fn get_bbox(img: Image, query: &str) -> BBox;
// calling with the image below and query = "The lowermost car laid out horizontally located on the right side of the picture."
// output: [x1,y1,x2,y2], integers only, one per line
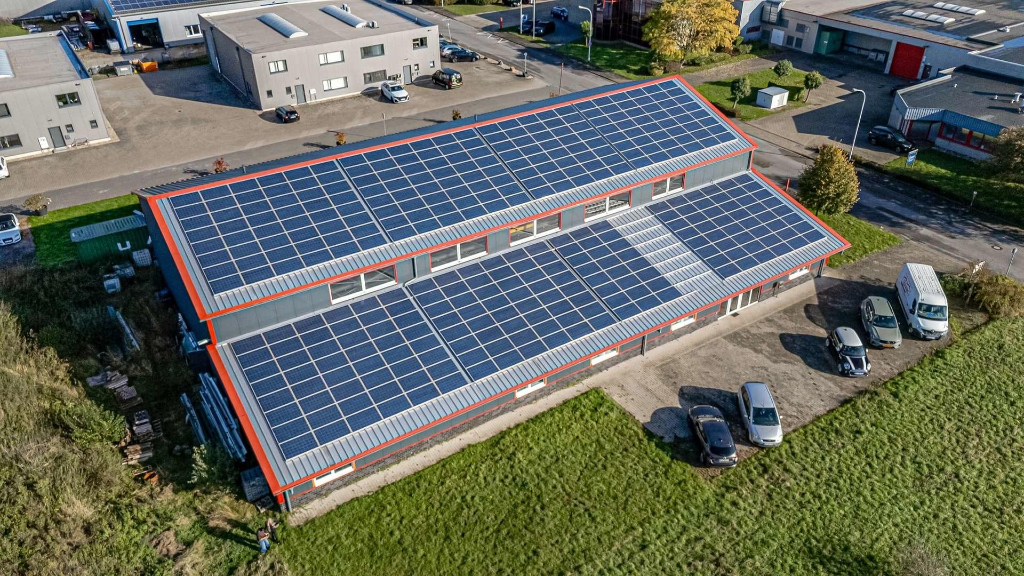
[861,126,914,156]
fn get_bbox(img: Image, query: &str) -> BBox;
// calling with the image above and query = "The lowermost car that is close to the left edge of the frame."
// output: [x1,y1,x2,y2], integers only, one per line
[0,213,25,246]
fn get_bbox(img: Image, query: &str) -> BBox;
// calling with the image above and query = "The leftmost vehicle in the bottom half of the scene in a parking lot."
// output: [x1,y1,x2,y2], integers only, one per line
[685,401,733,467]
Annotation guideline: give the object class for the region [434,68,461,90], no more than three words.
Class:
vehicle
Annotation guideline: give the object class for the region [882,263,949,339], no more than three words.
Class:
van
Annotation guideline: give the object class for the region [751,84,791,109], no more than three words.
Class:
shed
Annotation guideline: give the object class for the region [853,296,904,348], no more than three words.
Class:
car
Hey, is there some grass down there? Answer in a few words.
Yes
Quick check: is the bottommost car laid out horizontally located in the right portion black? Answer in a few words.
Yes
